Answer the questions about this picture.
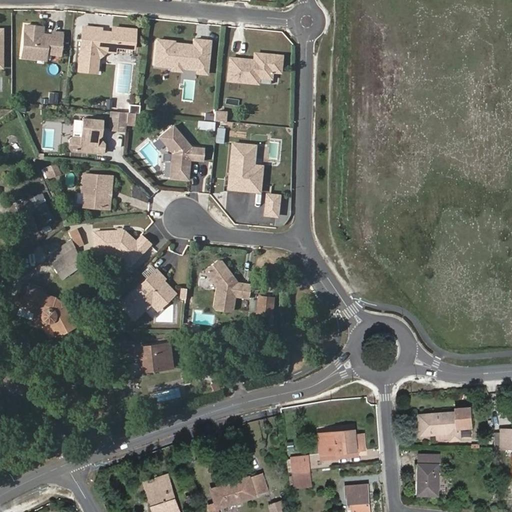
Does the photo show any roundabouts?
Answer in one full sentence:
Yes, a roundabout appears in the view.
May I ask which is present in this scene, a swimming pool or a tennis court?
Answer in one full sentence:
Of the two, only a swimming pool appears.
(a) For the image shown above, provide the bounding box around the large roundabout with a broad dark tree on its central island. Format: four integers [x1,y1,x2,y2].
[344,312,423,386]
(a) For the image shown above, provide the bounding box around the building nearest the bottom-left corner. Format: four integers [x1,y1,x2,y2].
[143,474,180,512]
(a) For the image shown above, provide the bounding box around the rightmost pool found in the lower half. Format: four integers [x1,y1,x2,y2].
[193,310,214,326]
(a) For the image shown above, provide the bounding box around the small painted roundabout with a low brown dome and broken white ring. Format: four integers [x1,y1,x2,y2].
[288,2,326,40]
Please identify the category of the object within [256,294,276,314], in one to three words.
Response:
shed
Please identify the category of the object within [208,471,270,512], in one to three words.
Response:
house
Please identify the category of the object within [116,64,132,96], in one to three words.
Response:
swimming pool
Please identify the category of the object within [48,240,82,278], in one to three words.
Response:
barn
